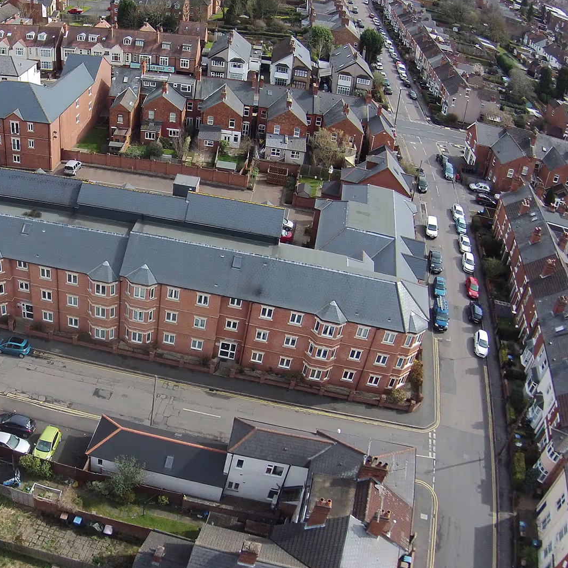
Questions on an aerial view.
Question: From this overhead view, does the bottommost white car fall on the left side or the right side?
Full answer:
The bottommost white car is on the left side of the image.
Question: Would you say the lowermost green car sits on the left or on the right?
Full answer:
The lowermost green car sits on the left side.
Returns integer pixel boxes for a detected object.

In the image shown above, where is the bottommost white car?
[0,428,34,453]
